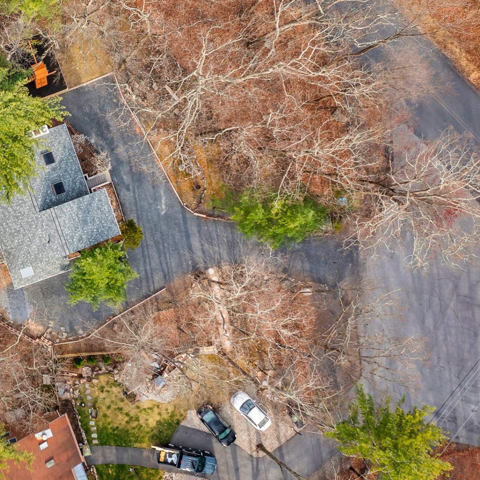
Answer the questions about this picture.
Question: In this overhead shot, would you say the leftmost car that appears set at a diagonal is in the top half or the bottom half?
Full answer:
Seen from above, the leftmost car that appears set at a diagonal lies in the bottom half of the view.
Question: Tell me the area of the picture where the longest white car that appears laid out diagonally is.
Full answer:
The longest white car that appears laid out diagonally sits in the bottom section of the image.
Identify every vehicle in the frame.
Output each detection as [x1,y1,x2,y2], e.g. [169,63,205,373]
[149,448,223,480]
[196,405,242,453]
[228,386,278,440]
